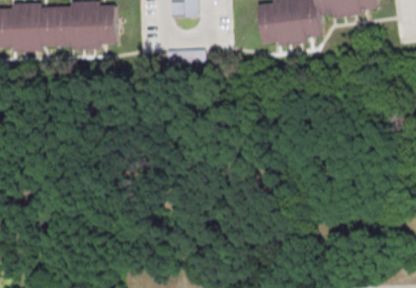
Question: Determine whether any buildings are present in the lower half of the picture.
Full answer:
No, no building can be made out in the lower half of the picture.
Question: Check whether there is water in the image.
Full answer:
No, water can't be seen anywhere here.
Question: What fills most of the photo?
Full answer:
The scene is dominated by trees.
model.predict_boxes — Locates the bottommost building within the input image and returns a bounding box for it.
[168,48,206,62]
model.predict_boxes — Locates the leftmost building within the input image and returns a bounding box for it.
[0,2,116,52]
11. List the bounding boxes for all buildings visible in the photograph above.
[168,48,206,62]
[0,2,116,52]
[172,0,200,18]
[256,0,319,46]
